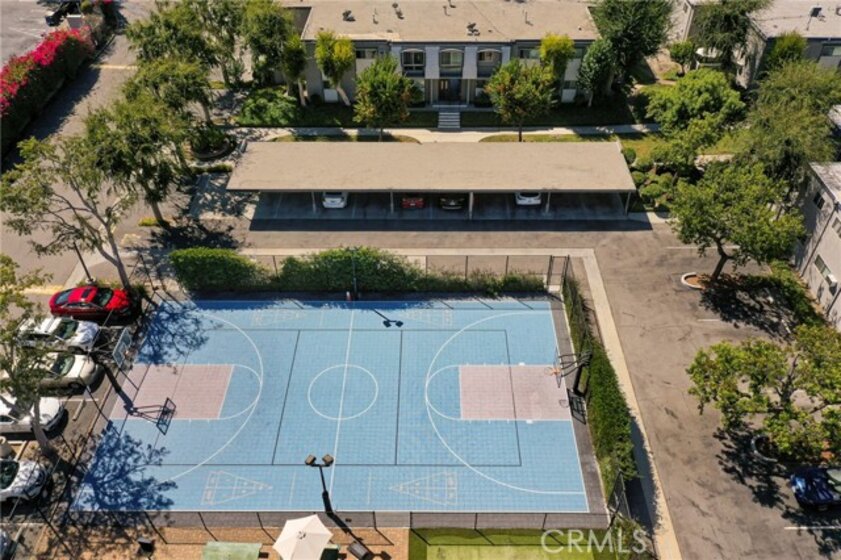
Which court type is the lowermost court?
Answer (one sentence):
Specifically, the lowermost court is a basketball court.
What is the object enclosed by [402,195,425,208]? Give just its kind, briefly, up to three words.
vehicle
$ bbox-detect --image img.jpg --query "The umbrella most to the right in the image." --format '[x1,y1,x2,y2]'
[273,511,334,560]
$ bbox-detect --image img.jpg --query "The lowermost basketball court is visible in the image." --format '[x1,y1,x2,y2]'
[70,301,590,512]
